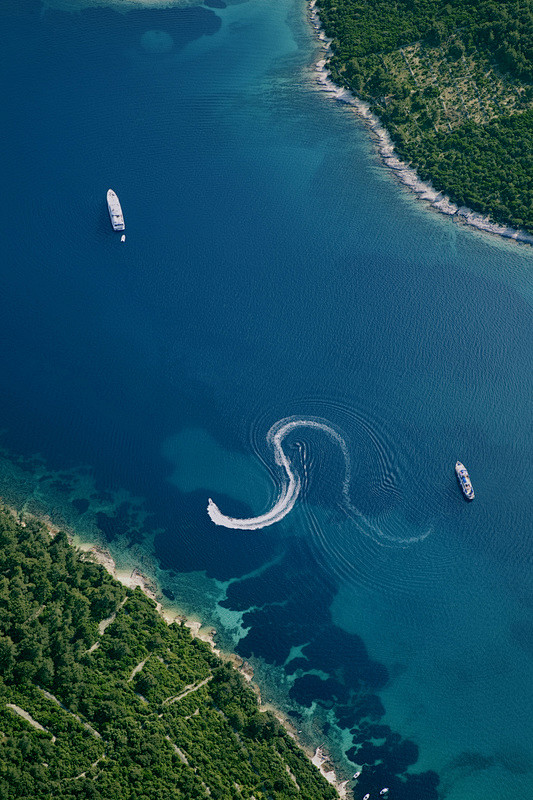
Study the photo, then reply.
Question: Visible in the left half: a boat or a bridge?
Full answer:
It is a boat that can be seen in the left half.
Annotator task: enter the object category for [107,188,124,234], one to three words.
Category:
boat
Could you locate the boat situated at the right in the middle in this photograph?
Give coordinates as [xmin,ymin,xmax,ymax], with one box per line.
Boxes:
[456,460,475,502]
